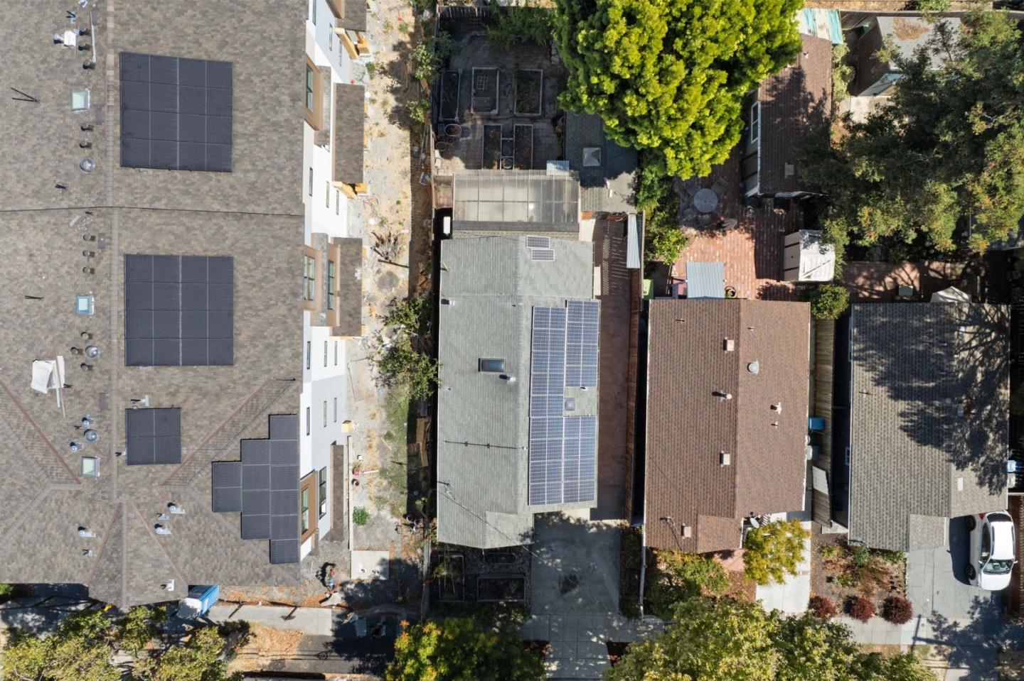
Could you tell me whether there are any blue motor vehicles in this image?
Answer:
No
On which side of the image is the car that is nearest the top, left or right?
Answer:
right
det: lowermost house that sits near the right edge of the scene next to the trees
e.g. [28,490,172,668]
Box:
[832,303,1012,553]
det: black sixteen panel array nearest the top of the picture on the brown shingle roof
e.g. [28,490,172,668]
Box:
[121,53,234,171]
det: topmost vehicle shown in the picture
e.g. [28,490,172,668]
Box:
[970,514,1019,592]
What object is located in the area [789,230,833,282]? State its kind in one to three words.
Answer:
shed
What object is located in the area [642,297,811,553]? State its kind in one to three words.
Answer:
house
